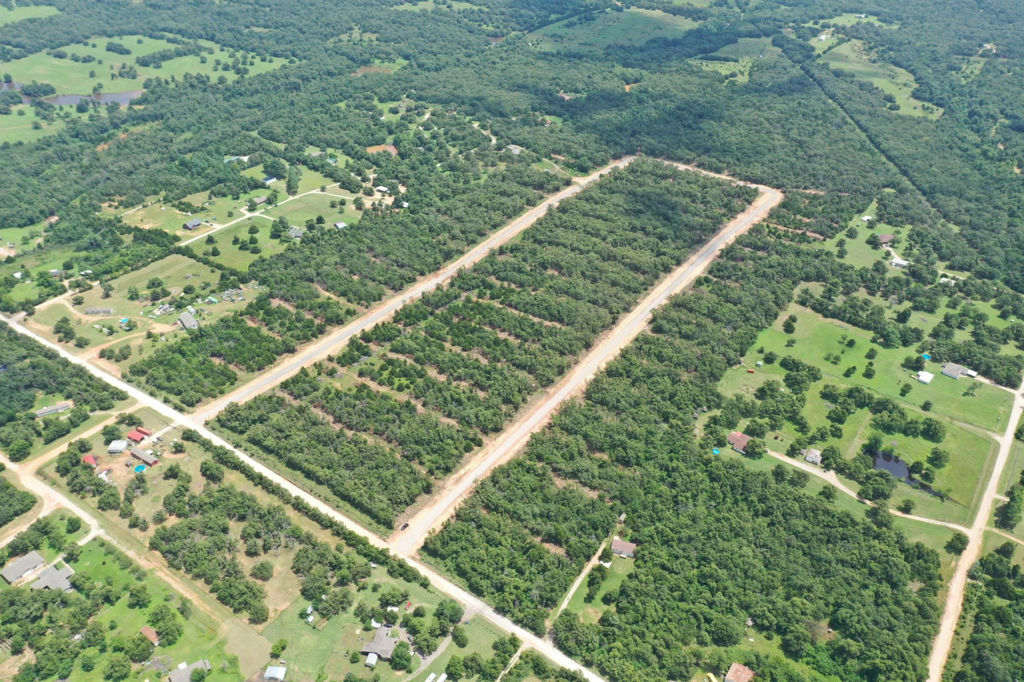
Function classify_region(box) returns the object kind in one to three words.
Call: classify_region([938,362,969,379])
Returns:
house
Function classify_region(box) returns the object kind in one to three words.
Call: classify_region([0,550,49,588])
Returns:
building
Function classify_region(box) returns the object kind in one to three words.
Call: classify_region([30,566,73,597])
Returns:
house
